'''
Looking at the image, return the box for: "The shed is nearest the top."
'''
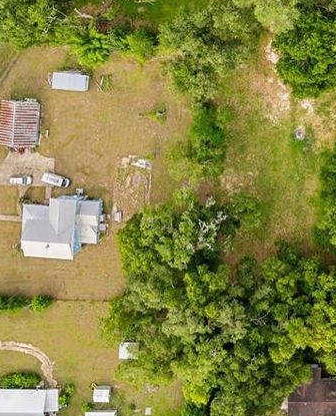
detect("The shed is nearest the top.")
[51,71,93,91]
